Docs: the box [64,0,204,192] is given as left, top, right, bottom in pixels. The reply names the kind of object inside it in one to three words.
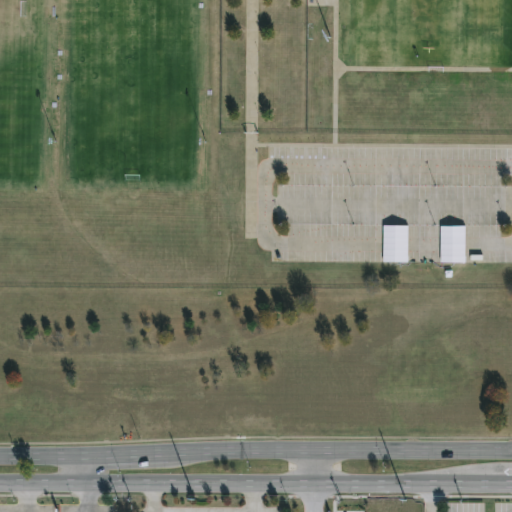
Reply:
soccer field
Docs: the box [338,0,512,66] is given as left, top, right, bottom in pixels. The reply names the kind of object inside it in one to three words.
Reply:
sports field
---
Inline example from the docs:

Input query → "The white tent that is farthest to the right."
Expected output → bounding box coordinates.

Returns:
[440,226,466,263]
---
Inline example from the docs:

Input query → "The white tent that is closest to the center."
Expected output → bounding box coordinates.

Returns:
[383,225,409,262]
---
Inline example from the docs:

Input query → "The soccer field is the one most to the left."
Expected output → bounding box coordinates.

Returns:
[0,0,48,192]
